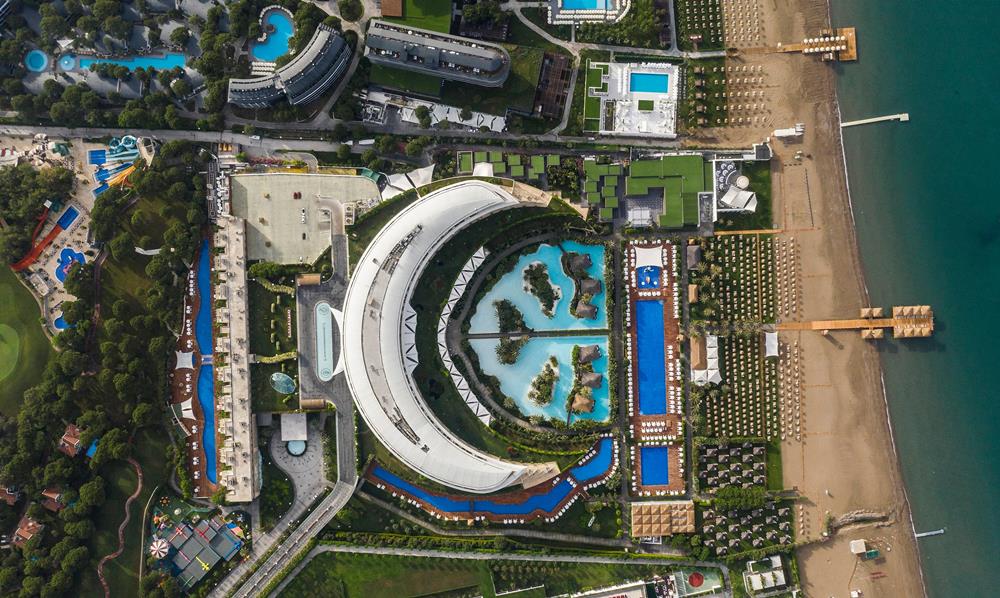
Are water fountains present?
Yes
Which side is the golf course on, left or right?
left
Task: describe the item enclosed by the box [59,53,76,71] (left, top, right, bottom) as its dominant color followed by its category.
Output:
blue swimming pool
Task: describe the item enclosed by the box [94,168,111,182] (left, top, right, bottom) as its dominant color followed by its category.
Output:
blue swimming pool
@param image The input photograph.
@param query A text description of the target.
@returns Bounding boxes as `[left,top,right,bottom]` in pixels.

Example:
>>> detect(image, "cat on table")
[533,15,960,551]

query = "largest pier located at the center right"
[776,306,934,339]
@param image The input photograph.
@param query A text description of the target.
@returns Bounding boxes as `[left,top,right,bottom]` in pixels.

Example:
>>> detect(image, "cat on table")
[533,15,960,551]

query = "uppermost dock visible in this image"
[728,26,856,61]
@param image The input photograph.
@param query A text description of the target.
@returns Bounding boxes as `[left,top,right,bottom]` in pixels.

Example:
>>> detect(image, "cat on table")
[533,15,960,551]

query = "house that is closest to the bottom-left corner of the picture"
[12,516,46,552]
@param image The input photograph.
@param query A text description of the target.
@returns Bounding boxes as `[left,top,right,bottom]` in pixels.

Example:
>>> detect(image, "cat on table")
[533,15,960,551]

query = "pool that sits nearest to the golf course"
[54,316,74,330]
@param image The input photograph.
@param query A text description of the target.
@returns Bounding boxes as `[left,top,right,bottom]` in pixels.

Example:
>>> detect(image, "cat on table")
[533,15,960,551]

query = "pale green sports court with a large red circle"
[675,571,723,598]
